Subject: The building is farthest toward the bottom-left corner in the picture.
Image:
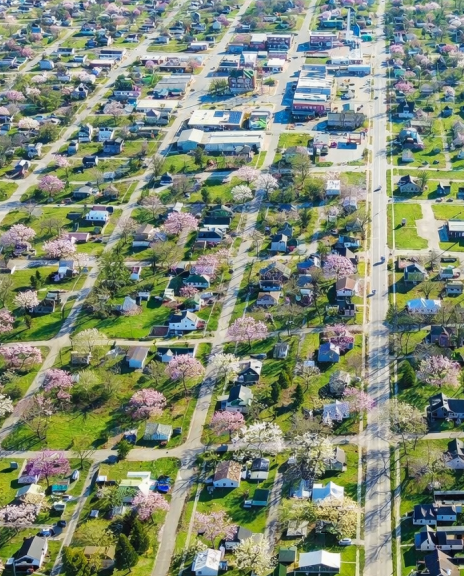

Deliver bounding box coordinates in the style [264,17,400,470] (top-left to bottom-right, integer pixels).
[9,535,55,573]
